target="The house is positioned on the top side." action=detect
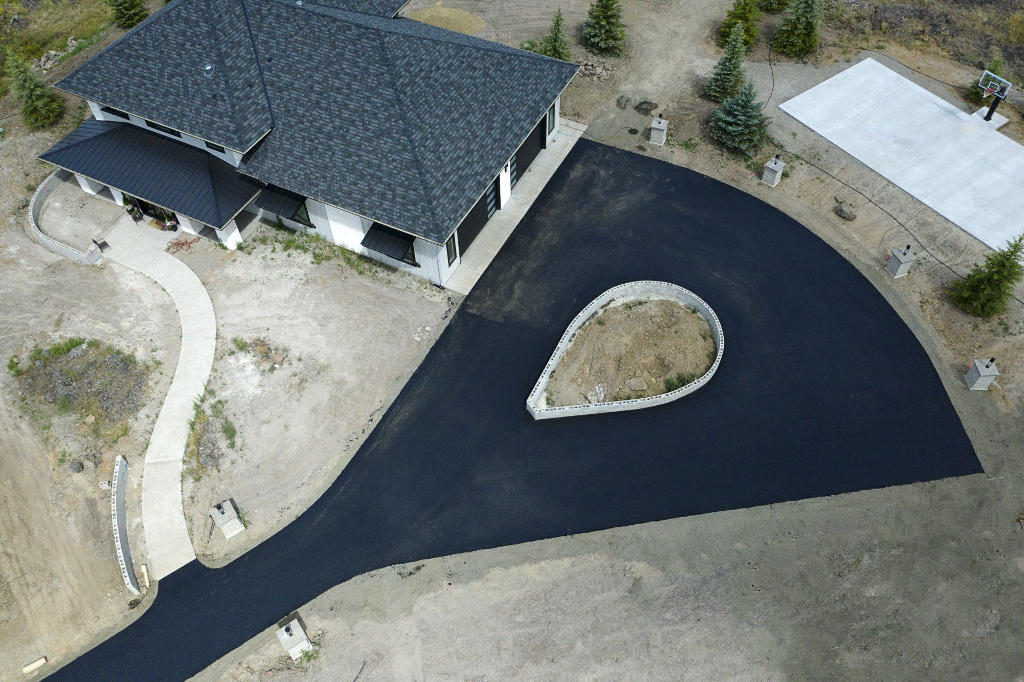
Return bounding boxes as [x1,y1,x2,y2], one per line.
[36,0,583,287]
